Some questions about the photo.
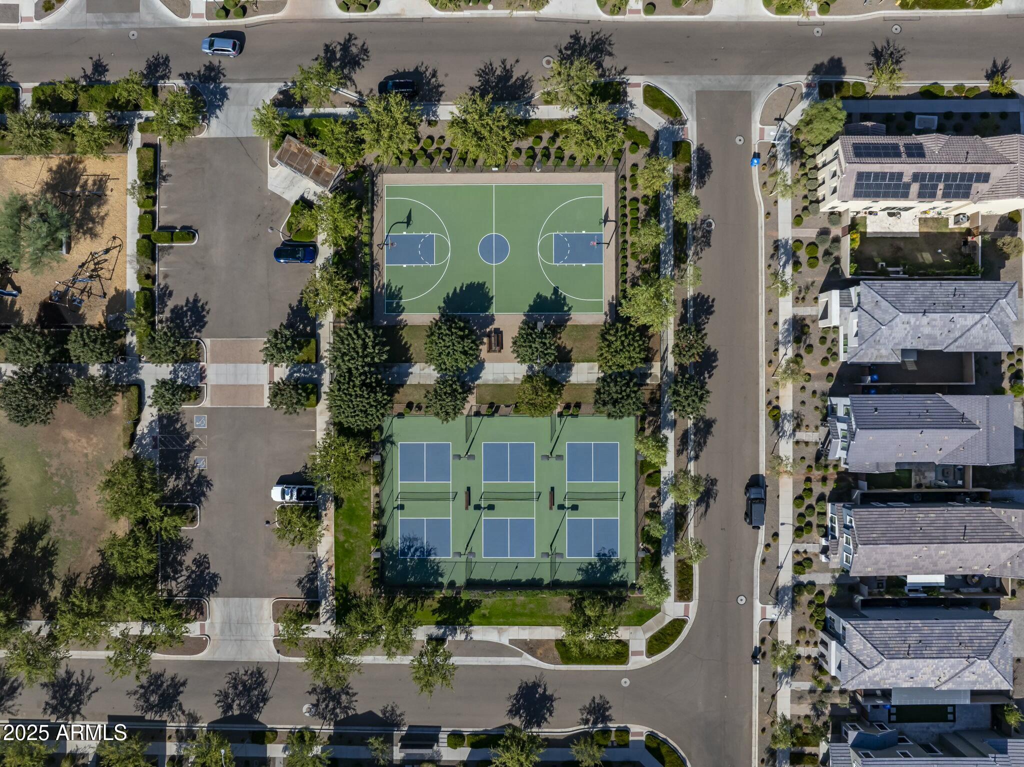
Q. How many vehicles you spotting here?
five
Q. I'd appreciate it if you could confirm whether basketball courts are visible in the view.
Yes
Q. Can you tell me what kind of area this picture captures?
residential area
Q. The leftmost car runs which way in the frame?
from side to side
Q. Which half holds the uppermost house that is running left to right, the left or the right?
right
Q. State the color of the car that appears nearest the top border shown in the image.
blue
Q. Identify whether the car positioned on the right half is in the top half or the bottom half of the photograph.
bottom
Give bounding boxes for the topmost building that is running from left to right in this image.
[818,111,1024,212]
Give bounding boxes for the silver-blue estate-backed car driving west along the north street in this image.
[199,32,241,56]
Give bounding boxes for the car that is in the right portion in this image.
[743,478,765,522]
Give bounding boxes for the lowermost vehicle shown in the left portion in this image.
[269,484,317,504]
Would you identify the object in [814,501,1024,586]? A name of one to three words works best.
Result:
house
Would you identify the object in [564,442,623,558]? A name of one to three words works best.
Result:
sports court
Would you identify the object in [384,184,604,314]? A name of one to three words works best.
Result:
basketball court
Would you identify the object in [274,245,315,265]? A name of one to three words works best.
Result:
car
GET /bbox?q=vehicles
[743,478,765,522]
[377,77,420,99]
[269,484,317,504]
[199,32,241,56]
[274,245,315,265]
